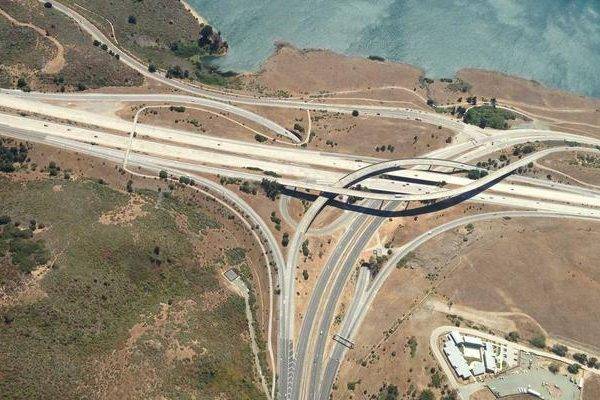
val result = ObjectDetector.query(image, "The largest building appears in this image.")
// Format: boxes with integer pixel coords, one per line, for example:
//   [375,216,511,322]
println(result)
[443,330,499,380]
